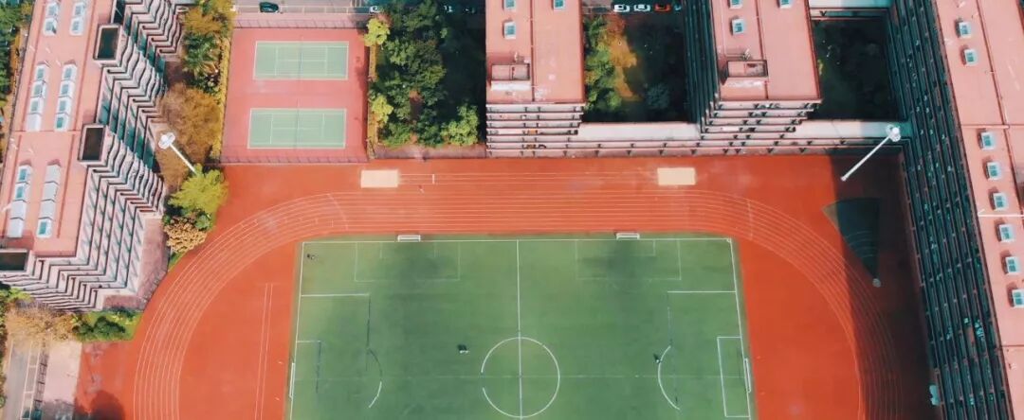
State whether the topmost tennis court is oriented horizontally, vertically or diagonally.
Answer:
horizontally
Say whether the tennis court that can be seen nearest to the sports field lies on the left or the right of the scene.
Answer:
left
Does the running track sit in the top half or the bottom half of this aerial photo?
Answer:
bottom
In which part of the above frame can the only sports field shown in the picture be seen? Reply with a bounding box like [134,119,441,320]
[282,233,758,420]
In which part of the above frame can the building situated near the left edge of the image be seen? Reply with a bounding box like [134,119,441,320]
[0,0,188,315]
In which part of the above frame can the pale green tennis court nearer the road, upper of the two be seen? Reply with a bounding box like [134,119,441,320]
[251,41,349,79]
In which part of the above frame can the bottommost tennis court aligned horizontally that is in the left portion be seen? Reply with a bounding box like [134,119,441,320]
[246,104,347,151]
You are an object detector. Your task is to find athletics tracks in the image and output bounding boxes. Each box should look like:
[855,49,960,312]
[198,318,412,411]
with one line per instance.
[132,173,901,420]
